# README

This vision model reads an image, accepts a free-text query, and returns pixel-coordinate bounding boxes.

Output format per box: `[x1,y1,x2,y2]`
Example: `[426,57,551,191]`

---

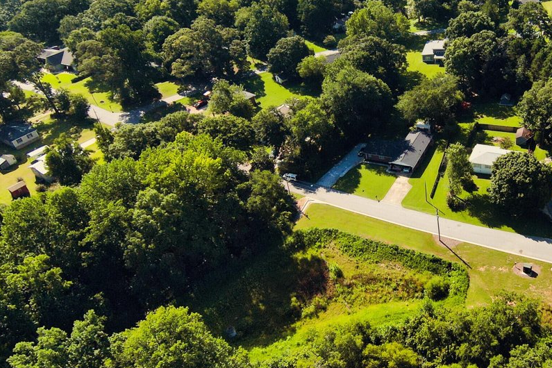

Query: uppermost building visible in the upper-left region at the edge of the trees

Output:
[42,51,82,72]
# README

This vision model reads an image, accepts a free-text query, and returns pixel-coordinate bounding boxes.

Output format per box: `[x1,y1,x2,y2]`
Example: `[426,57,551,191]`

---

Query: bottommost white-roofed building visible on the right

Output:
[468,145,516,177]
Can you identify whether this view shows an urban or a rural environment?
rural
